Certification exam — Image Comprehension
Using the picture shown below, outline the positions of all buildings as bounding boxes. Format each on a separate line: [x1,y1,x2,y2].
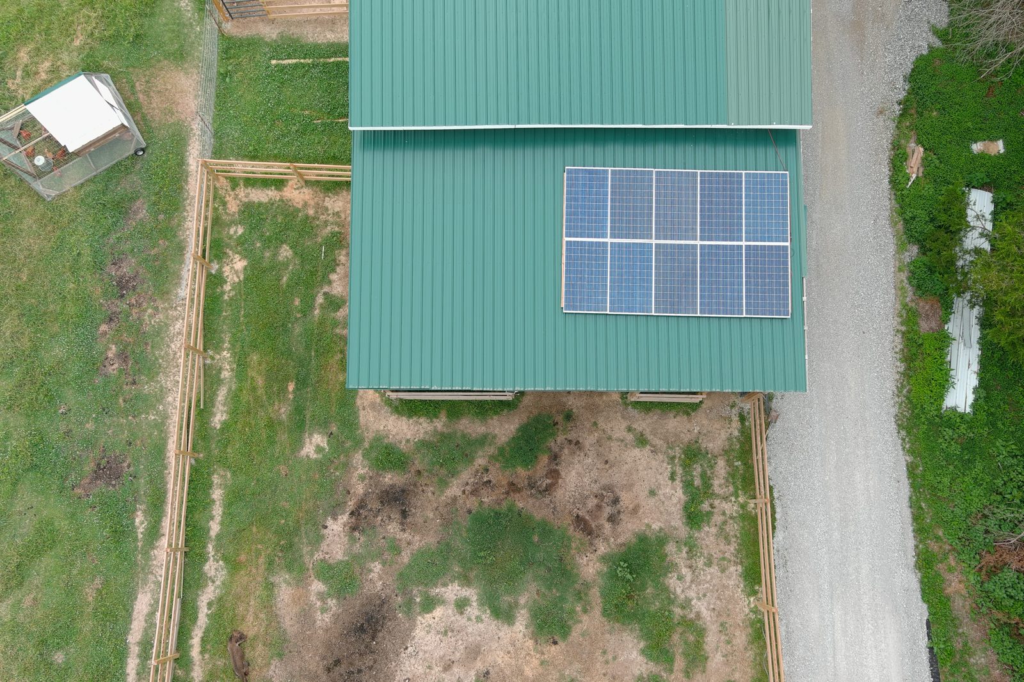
[345,0,812,396]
